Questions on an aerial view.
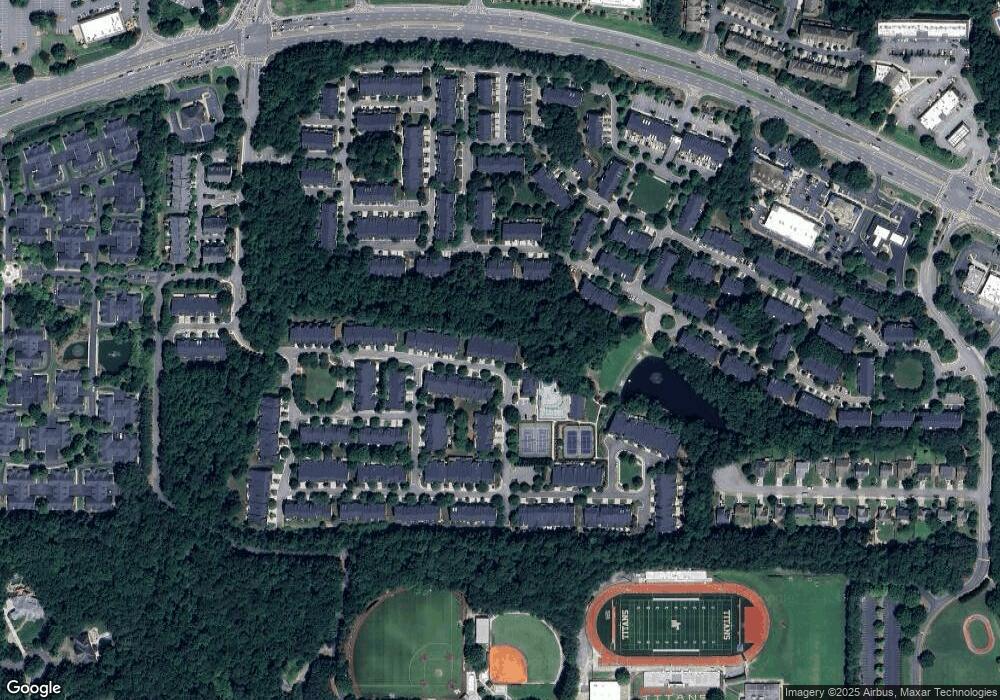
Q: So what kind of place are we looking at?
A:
residential area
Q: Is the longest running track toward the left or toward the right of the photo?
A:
right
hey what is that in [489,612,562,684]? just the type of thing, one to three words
baseball field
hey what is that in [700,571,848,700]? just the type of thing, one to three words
sports field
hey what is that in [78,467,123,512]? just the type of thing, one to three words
house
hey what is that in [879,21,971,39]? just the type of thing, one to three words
building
